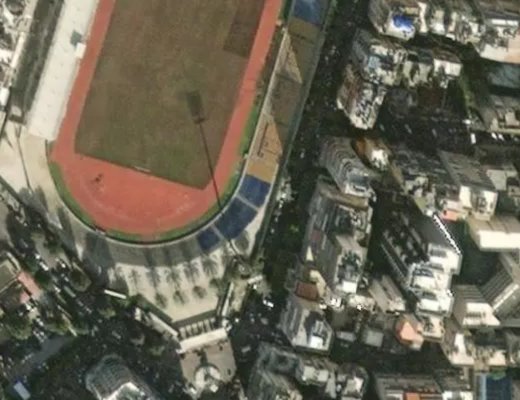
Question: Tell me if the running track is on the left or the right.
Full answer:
The running track sits on the left side.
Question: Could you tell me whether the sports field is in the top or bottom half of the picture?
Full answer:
The sports field sits in the top half of the picture.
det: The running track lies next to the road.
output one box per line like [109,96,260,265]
[49,0,282,235]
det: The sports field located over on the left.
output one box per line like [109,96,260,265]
[75,0,261,189]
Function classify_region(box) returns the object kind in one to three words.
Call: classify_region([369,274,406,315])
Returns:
building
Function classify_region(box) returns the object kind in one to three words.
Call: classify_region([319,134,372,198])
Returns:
building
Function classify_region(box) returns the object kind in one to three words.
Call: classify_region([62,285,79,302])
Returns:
vehicle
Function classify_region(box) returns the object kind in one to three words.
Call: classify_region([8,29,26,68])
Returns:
shed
